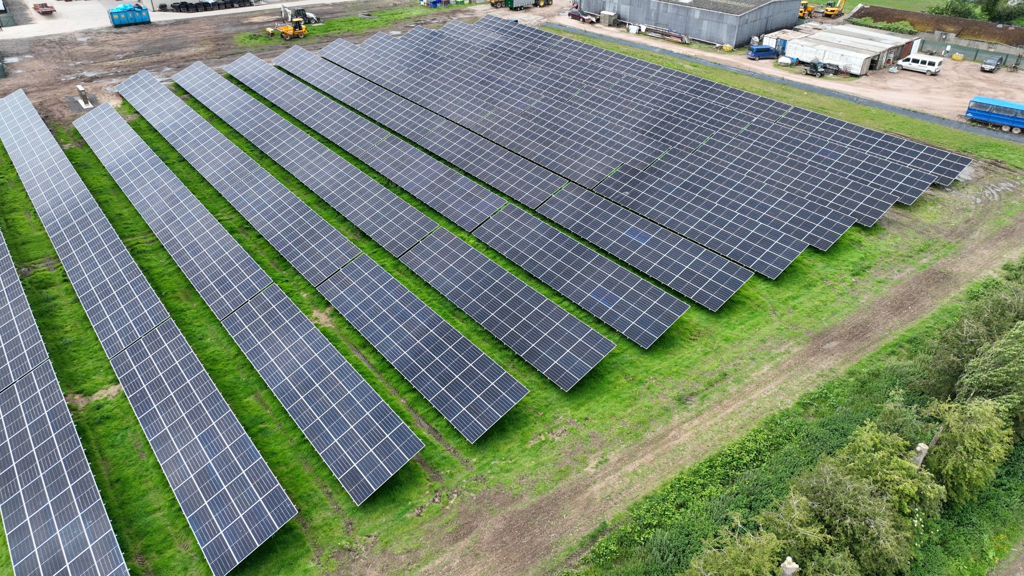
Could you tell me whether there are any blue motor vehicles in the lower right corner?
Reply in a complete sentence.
No, there is no blue motor vehicle in the lower right corner.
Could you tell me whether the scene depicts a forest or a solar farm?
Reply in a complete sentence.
What you see here is a solar farm.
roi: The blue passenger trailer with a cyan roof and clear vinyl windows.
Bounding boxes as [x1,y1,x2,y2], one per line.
[954,97,1024,134]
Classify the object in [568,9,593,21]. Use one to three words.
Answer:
vehicle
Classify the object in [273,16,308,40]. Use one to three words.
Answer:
truck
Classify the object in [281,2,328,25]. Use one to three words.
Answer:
work vehicle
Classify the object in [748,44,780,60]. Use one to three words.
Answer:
vehicle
